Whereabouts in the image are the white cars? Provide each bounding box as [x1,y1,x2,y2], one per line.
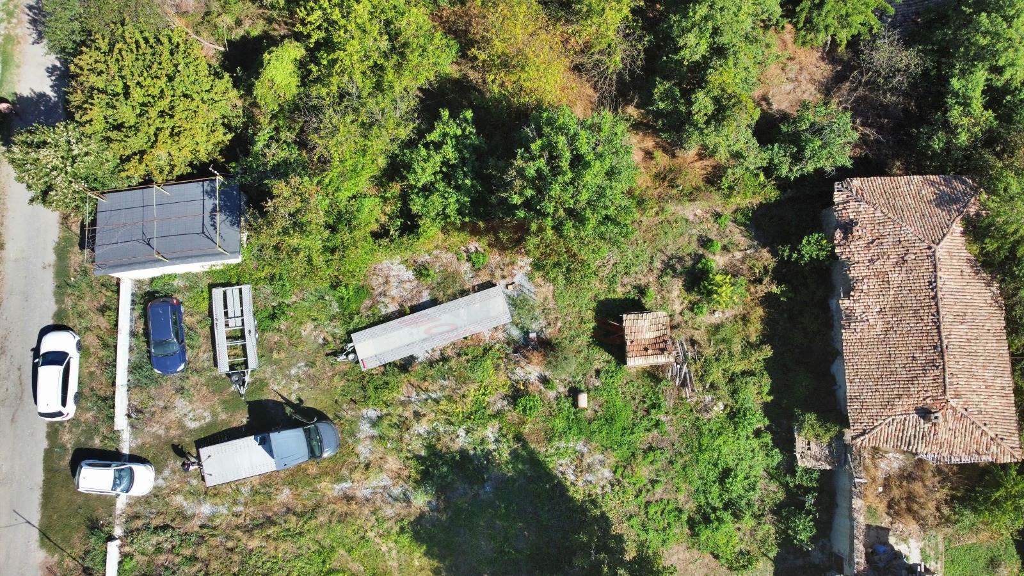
[73,457,158,501]
[34,331,83,419]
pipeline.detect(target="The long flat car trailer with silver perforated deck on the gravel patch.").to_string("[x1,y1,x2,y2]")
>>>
[324,286,512,371]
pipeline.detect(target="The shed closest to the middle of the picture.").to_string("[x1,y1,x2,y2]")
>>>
[608,310,677,368]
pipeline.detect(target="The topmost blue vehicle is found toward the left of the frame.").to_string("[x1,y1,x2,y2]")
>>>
[144,297,189,376]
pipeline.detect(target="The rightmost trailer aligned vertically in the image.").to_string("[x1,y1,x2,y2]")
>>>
[211,283,263,402]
